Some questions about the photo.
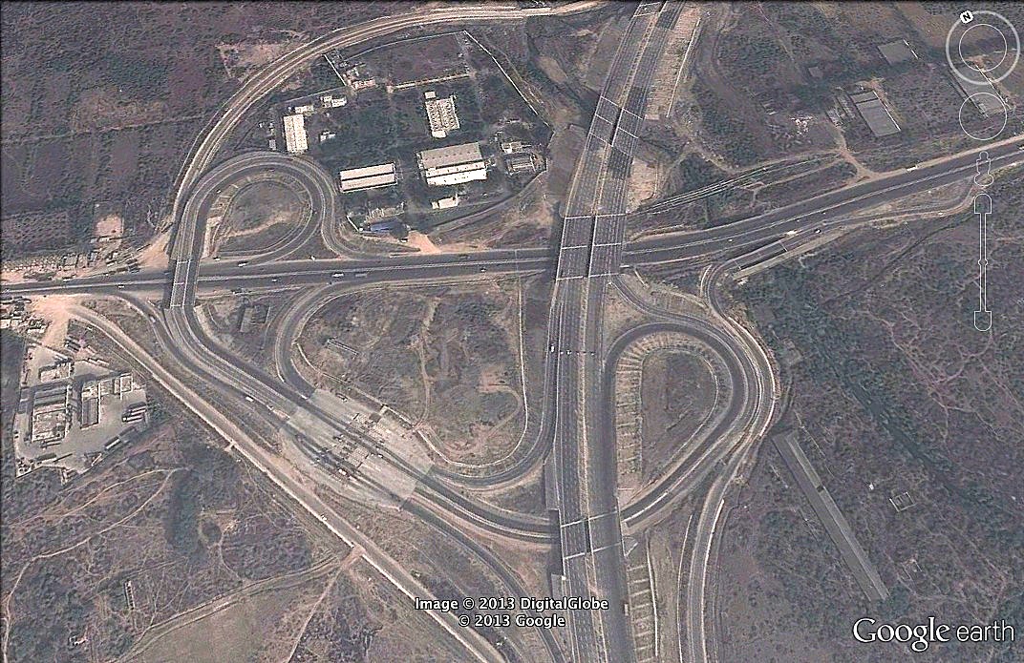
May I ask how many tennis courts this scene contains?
zero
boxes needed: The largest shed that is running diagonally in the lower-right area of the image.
[773,431,884,607]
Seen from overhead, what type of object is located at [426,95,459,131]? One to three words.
building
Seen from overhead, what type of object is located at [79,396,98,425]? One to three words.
building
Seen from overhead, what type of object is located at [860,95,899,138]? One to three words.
shed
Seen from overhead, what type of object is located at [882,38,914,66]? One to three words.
shed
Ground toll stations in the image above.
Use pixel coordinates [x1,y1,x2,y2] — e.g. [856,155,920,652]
[276,389,432,509]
